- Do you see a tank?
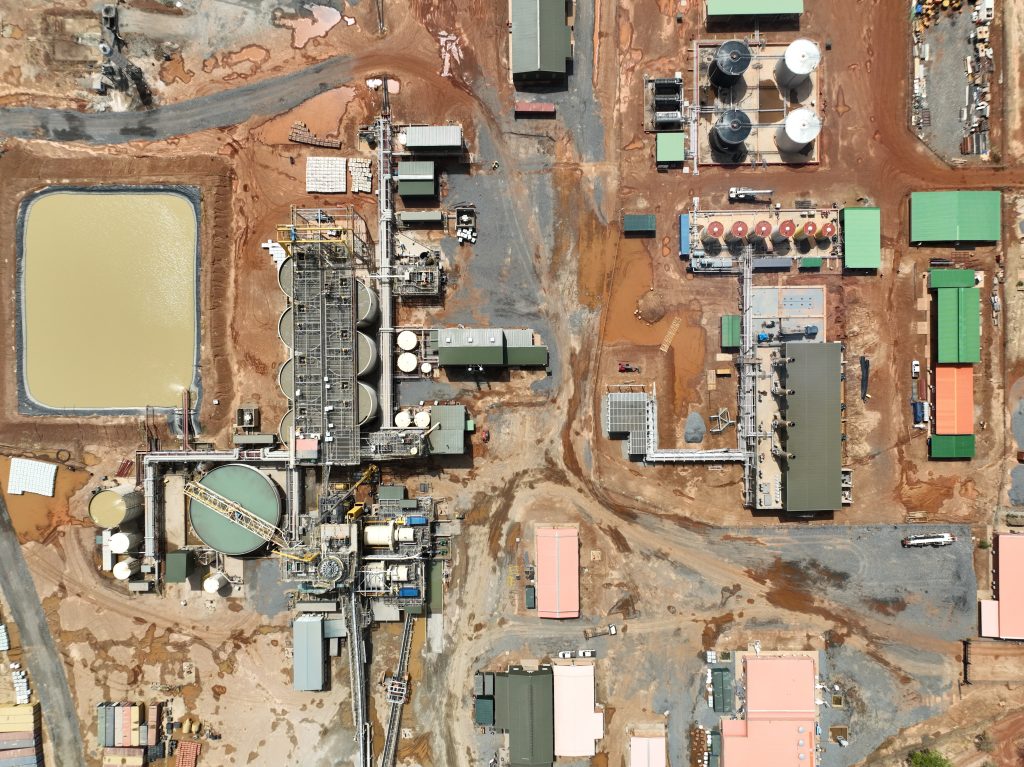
Yes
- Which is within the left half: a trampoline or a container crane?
container crane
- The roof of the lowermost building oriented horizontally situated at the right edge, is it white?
No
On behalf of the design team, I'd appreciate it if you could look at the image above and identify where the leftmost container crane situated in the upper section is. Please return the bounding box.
[276,208,367,256]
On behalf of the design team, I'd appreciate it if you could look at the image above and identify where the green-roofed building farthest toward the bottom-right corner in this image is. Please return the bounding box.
[924,435,975,458]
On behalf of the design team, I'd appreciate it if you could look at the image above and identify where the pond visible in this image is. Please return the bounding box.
[18,186,202,415]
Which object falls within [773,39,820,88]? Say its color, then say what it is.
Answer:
white storage tank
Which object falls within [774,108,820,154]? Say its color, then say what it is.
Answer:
white storage tank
